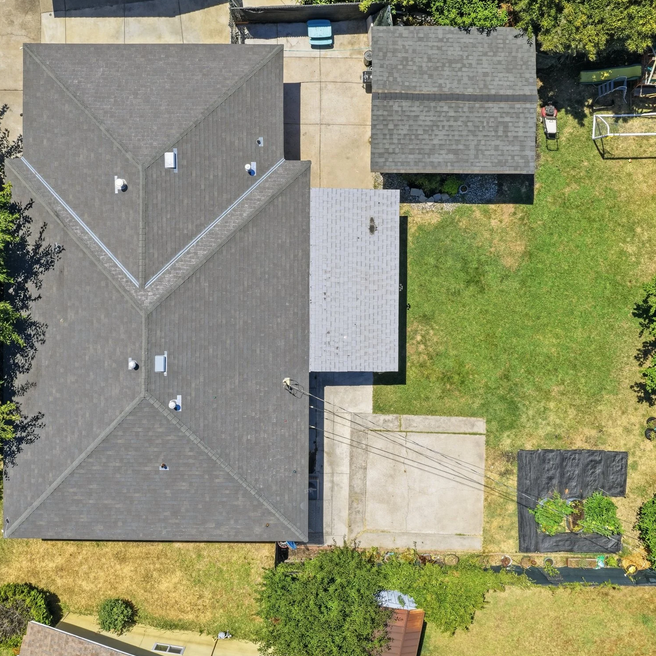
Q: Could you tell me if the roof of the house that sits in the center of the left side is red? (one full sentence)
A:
No, the color of the roof of the house that sits in the center of the left side is gray.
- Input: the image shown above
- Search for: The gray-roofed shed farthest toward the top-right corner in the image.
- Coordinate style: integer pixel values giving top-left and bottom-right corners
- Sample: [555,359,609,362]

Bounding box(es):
[371,26,540,175]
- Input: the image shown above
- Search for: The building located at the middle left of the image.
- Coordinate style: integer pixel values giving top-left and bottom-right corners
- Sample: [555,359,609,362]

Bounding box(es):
[0,43,312,542]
